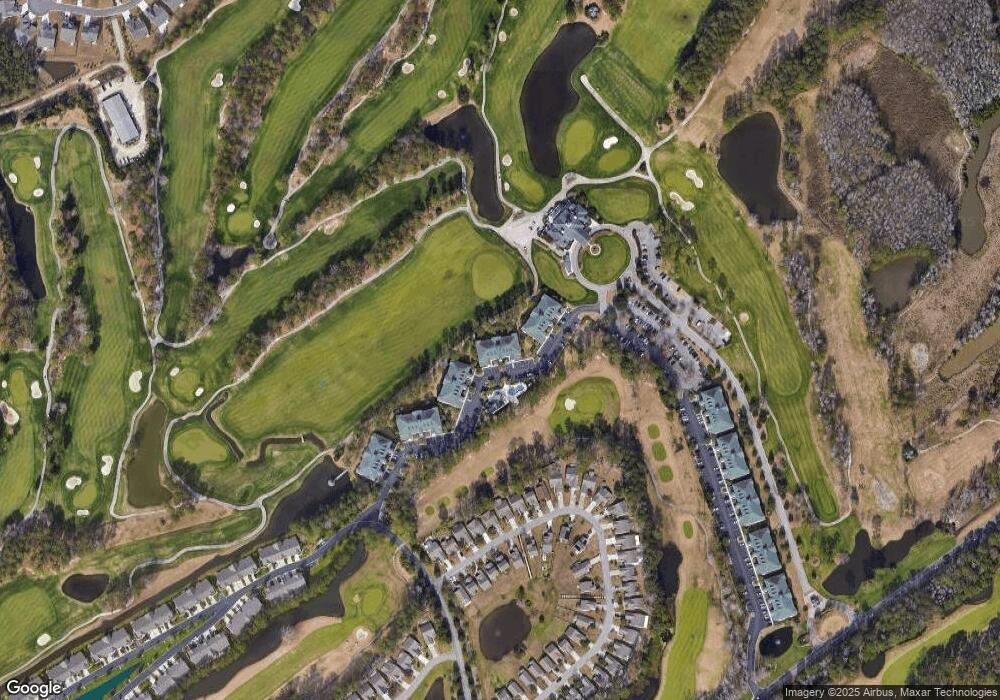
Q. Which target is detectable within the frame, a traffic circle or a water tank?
traffic circle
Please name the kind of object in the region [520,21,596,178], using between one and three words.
pond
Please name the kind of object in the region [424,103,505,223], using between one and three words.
pond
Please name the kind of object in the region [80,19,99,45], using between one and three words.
house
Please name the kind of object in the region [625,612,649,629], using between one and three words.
house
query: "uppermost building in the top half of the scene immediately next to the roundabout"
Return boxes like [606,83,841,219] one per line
[541,195,591,250]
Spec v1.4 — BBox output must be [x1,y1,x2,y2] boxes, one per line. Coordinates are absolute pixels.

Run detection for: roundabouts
[572,225,637,289]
